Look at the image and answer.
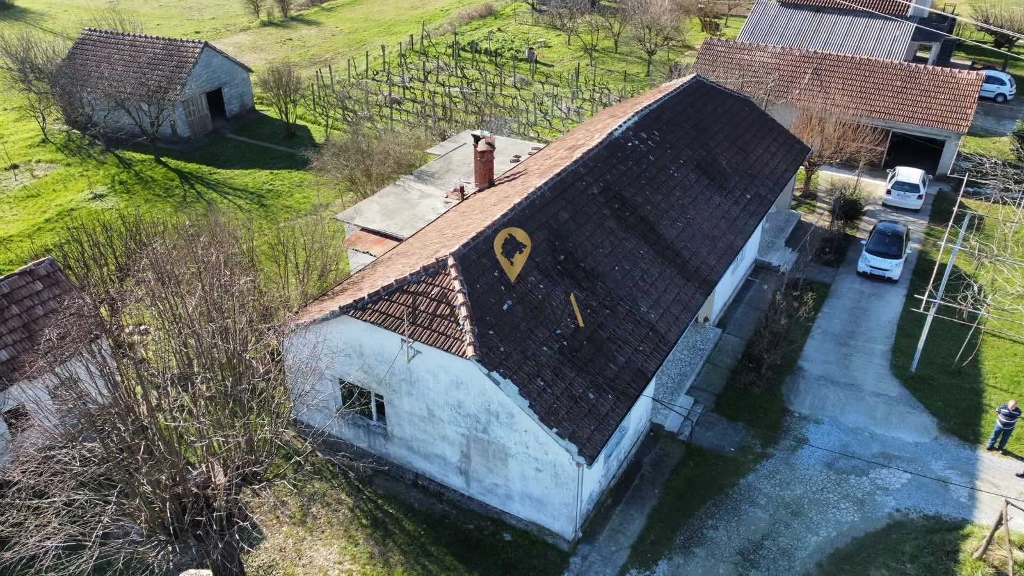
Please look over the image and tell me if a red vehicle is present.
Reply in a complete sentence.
No, I find no red vehicle anywhere in the image.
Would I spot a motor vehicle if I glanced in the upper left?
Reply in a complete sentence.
No, looking in the upper left, there is no motor vehicle.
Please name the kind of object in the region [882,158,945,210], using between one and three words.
car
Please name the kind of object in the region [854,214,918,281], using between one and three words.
car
